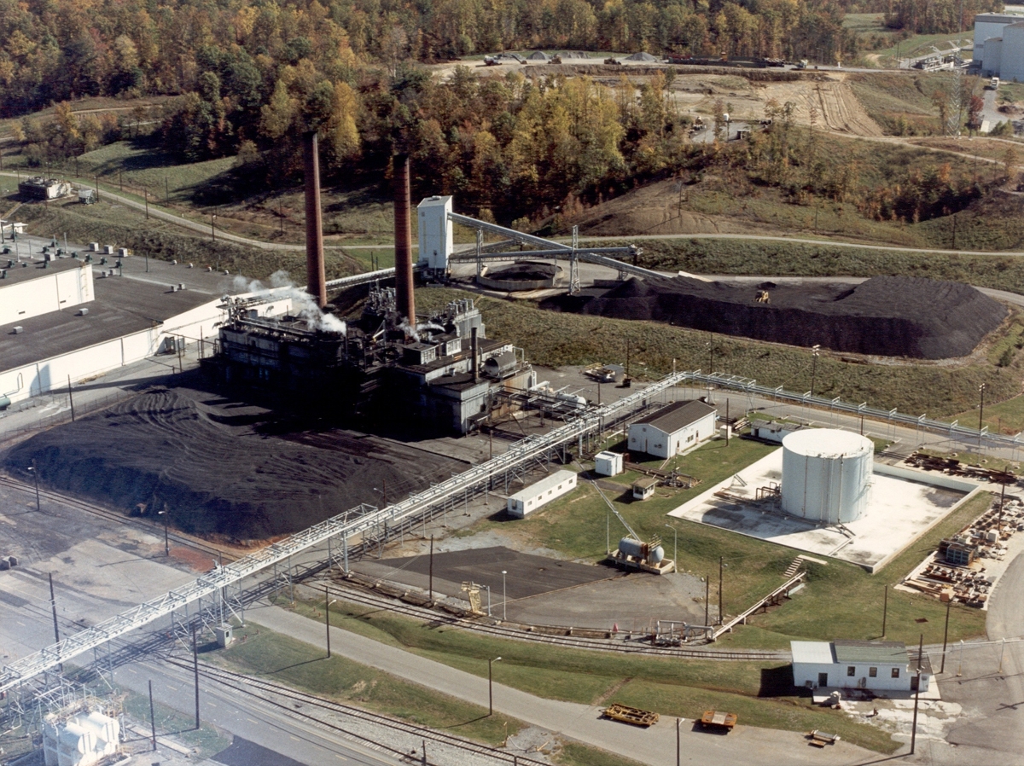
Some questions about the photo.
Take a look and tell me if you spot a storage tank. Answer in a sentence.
Yes, there's a storage tank down there.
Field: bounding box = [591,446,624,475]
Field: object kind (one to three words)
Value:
shed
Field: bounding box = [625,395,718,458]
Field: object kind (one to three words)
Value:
building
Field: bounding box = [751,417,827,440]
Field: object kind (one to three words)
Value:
shed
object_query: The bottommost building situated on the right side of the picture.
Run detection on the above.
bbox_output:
[786,634,940,692]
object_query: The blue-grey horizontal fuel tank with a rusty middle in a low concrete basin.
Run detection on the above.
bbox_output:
[608,533,677,574]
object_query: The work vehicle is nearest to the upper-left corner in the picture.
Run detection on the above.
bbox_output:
[481,49,526,64]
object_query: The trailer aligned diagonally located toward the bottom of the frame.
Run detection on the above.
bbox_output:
[518,467,580,517]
